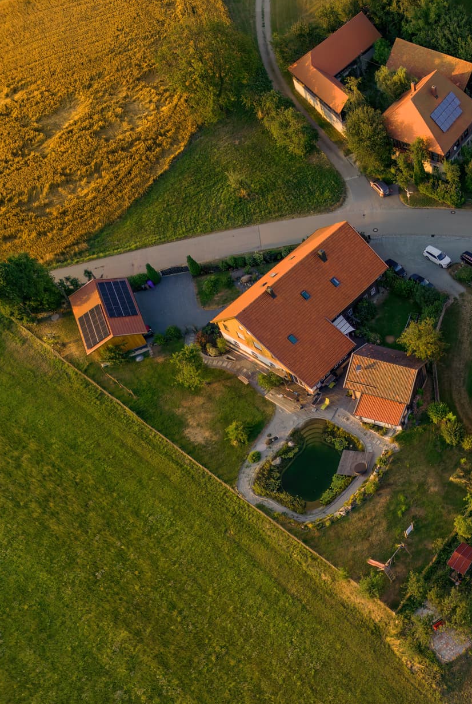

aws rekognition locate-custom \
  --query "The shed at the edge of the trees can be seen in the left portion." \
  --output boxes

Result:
[69,277,150,364]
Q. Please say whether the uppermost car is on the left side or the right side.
right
